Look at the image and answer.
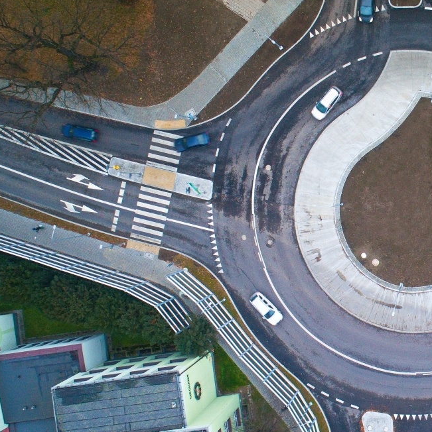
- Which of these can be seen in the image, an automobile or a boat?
automobile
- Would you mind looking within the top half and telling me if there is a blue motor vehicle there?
Yes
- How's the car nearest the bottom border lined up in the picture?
at an angle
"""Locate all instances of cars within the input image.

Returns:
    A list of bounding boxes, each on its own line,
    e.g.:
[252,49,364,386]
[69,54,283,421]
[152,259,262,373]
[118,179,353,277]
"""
[248,293,283,327]
[173,134,210,151]
[311,85,341,119]
[59,122,97,142]
[356,0,374,23]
